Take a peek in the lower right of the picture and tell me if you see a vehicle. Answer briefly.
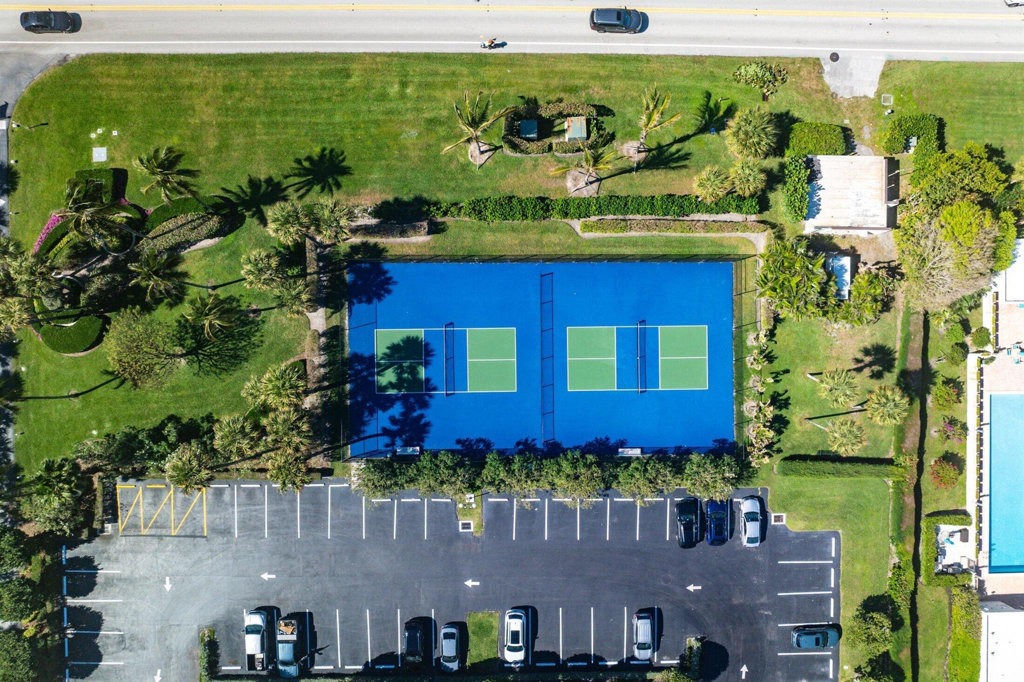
Yes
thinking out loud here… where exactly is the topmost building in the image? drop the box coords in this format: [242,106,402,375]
[791,156,903,235]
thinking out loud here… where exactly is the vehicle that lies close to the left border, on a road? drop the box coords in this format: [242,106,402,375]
[21,9,76,35]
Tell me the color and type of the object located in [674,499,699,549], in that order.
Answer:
black car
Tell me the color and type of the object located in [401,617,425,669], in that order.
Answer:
black car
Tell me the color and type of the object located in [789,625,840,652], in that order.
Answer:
blue car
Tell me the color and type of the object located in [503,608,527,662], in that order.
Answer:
white car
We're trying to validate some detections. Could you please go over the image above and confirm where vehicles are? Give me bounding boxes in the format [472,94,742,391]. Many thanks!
[738,496,763,548]
[503,608,527,662]
[674,499,699,549]
[589,6,641,35]
[789,625,840,652]
[241,609,269,673]
[401,617,425,669]
[273,617,300,677]
[438,622,461,672]
[632,611,656,660]
[704,497,730,547]
[21,9,76,35]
